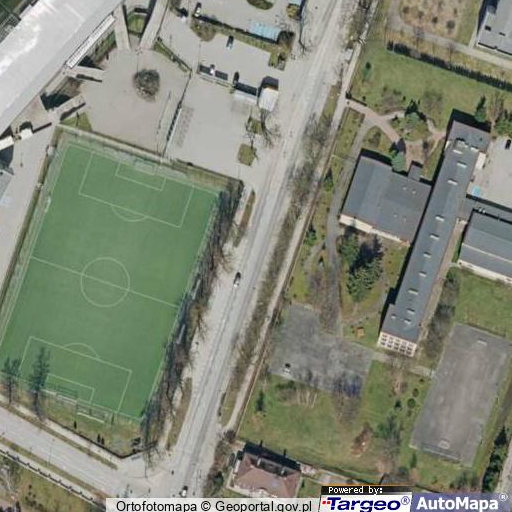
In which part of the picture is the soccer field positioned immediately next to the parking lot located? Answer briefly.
left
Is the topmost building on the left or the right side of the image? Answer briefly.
right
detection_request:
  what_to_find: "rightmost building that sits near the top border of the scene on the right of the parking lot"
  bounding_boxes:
[475,0,512,61]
